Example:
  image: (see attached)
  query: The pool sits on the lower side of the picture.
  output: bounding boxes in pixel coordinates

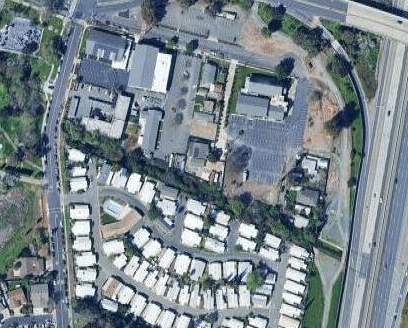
[103,199,131,220]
